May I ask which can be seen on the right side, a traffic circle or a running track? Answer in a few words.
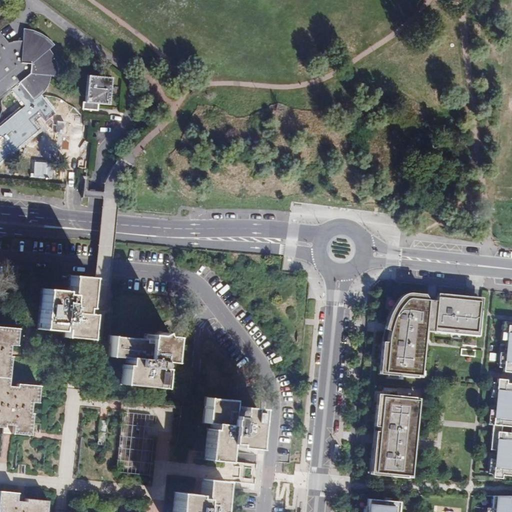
traffic circle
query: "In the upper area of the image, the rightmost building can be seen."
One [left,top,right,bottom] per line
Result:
[81,76,114,111]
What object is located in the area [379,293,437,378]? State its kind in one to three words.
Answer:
building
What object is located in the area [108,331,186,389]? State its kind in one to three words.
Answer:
building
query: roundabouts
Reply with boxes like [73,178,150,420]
[286,219,399,292]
